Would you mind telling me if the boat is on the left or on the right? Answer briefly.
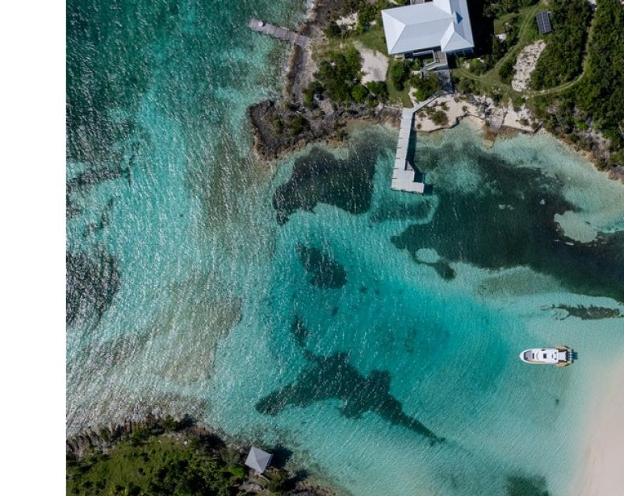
right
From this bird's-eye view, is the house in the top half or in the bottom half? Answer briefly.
top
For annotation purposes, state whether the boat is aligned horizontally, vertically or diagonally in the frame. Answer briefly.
horizontally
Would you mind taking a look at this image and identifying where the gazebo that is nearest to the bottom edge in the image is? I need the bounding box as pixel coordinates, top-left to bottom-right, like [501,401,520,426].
[245,446,277,481]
